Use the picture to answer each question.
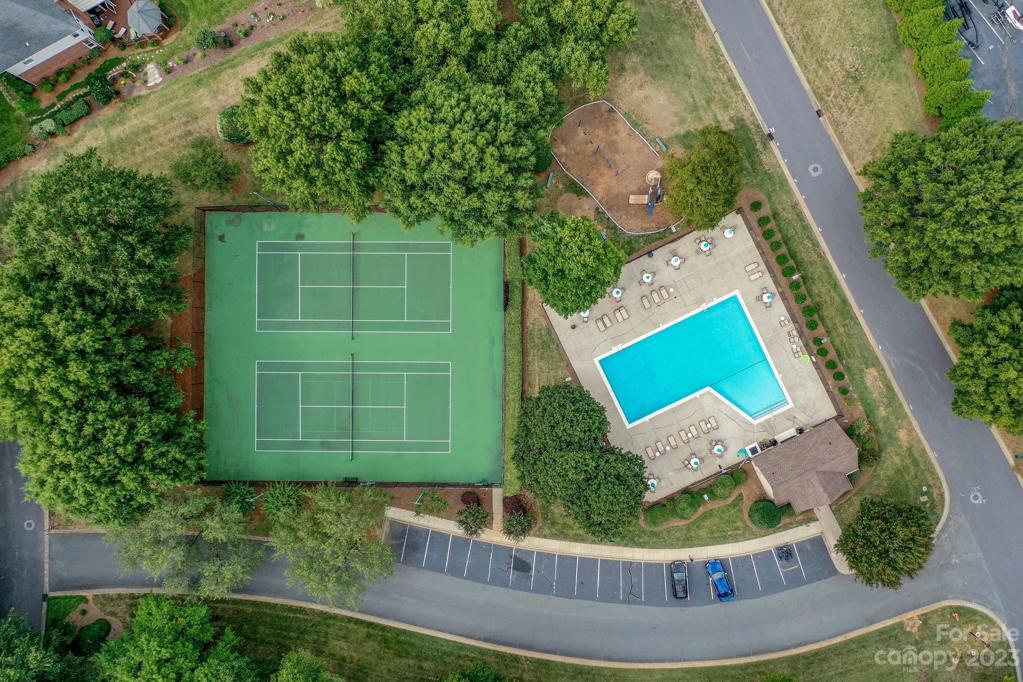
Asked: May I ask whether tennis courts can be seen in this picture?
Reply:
Yes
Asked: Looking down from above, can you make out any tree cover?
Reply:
Yes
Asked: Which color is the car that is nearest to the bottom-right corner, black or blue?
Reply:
blue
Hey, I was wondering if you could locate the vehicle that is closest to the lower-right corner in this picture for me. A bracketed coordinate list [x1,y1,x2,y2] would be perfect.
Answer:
[705,558,732,600]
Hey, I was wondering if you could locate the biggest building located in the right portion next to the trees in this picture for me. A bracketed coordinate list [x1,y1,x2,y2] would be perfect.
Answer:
[746,418,859,514]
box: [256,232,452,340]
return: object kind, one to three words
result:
tennis court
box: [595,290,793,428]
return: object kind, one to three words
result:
swimming pool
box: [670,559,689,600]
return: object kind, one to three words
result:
car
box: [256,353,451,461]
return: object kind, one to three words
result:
tennis court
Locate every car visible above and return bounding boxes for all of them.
[670,559,689,600]
[705,558,732,600]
